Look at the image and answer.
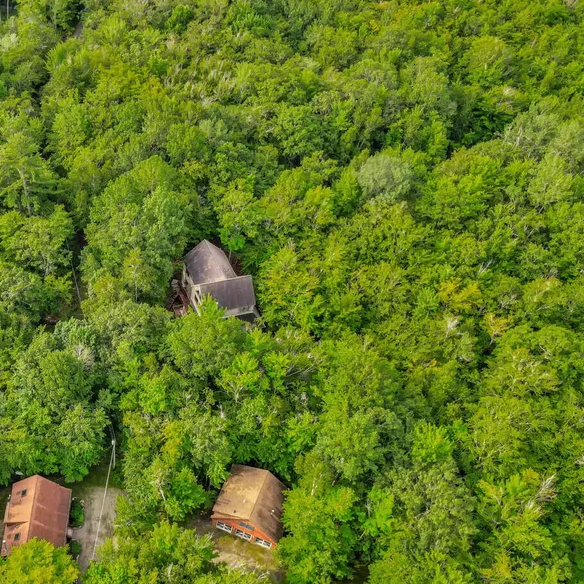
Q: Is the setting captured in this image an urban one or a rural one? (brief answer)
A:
rural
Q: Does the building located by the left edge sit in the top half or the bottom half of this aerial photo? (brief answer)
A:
bottom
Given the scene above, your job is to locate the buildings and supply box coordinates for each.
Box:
[0,477,73,557]
[168,240,256,334]
[211,465,288,544]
